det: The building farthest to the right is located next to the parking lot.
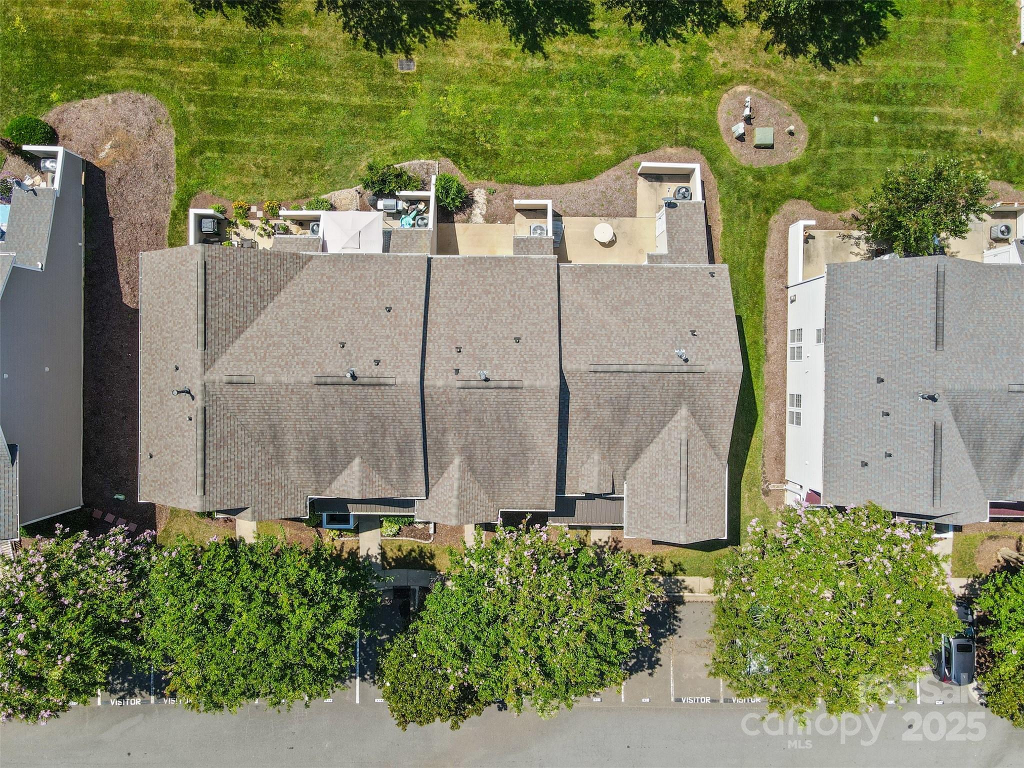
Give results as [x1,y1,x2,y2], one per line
[781,237,1024,530]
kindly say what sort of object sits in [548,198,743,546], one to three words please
house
